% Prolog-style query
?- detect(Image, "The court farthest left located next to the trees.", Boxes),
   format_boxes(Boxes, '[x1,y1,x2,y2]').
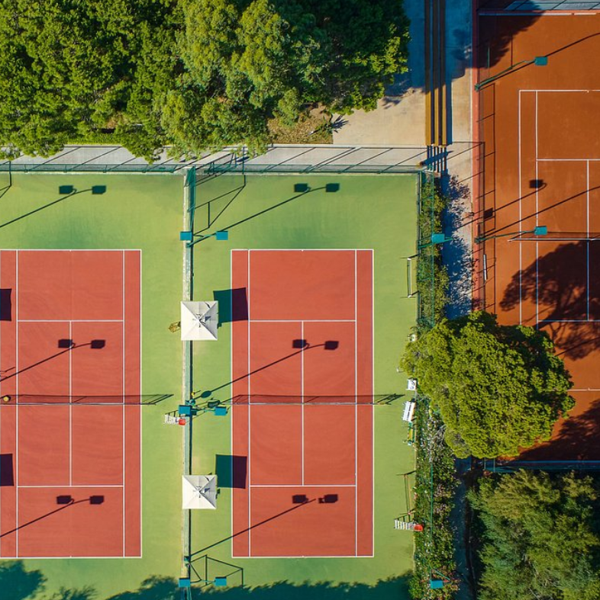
[0,171,184,600]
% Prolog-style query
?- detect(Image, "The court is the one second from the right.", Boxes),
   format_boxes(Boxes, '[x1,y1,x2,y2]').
[190,171,417,600]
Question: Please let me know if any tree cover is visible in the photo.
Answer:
Yes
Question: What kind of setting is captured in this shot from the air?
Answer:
sports ground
